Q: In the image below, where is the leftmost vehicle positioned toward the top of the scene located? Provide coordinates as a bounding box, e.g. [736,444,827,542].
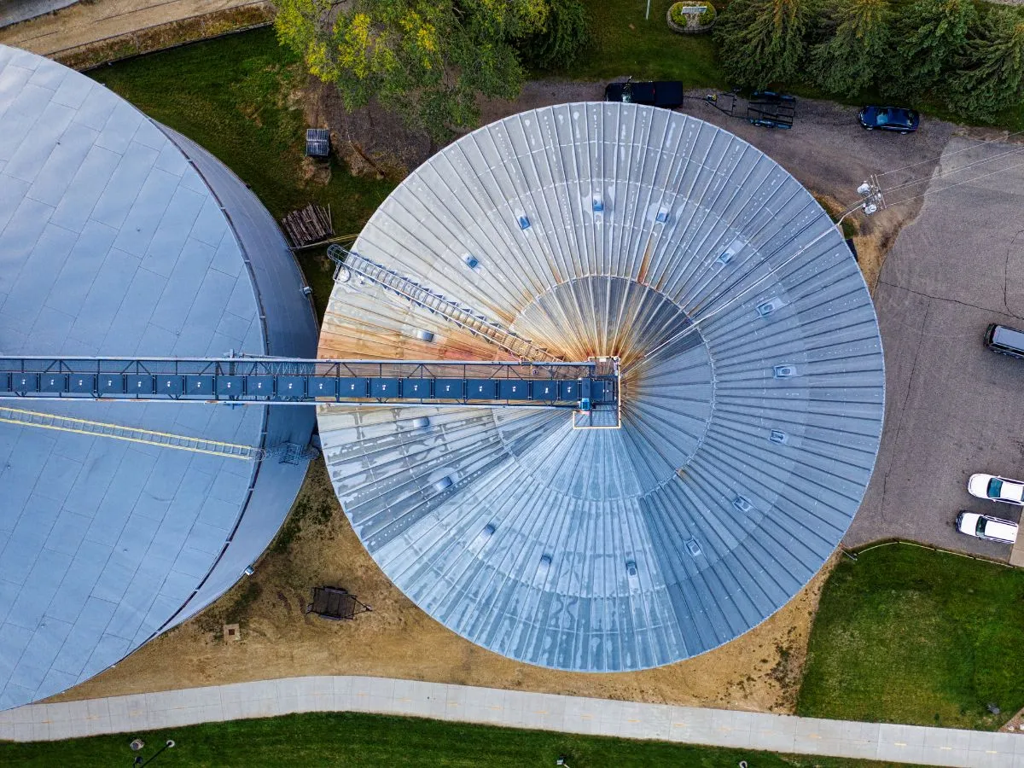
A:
[607,74,683,109]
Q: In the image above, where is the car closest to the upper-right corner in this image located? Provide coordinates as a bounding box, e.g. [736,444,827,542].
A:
[861,100,924,133]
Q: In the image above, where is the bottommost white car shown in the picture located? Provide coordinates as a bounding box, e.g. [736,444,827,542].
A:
[956,513,1024,547]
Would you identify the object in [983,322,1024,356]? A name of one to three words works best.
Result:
car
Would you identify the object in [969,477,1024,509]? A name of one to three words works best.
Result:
car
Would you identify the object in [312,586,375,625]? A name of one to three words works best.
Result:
trailer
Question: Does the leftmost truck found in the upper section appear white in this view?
No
